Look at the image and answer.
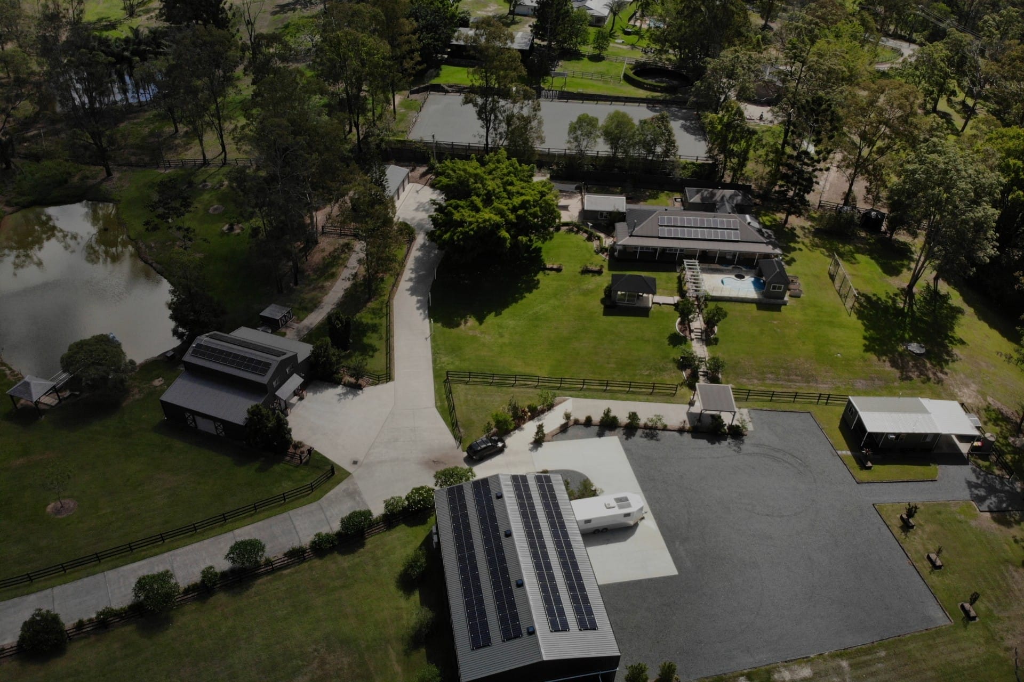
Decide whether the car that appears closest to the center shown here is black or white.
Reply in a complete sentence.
The color of the car that appears closest to the center is black.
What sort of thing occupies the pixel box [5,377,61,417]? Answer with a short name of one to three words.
gazebo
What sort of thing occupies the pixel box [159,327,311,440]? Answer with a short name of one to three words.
barn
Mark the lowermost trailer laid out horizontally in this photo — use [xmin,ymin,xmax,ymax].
[569,489,651,527]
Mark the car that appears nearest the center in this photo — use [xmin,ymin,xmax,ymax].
[467,433,508,460]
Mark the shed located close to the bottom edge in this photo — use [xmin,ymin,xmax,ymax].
[431,472,619,682]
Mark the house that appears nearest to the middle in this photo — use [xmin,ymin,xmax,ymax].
[609,275,657,307]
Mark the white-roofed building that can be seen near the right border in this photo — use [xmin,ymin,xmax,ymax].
[843,391,979,448]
